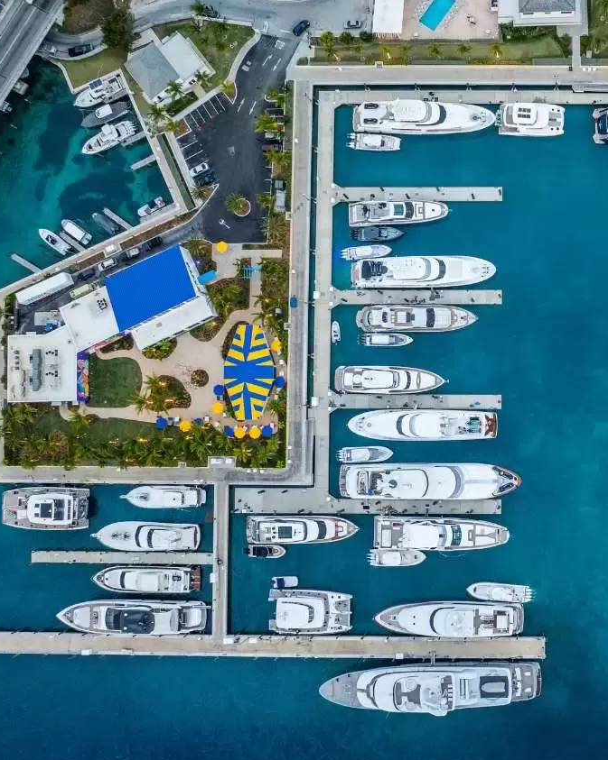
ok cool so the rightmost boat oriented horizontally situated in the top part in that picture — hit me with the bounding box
[495,103,564,136]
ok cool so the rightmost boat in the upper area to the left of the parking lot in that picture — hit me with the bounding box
[138,196,168,216]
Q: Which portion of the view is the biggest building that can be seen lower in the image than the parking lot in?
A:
left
